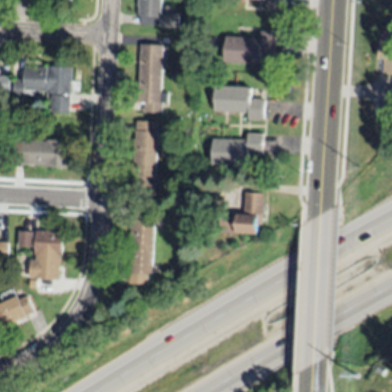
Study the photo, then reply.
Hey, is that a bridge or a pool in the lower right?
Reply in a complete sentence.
You can see a bridge in the lower right.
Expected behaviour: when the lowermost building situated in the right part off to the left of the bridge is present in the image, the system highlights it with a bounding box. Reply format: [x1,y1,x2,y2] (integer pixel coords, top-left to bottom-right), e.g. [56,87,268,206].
[234,192,264,234]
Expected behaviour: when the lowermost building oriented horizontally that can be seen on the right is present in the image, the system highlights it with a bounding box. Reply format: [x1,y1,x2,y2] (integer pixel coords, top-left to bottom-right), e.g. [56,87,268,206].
[210,132,266,164]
